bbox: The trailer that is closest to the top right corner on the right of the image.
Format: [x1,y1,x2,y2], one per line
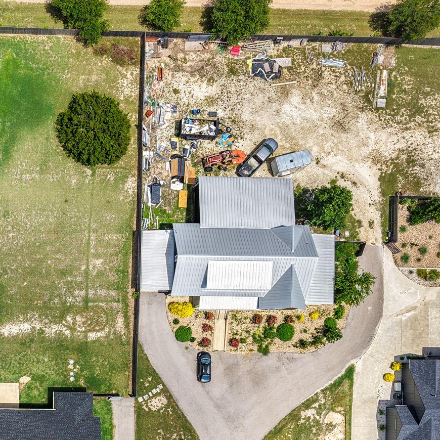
[271,150,314,176]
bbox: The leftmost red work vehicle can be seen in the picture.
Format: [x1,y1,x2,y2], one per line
[197,152,226,169]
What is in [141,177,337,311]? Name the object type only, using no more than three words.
house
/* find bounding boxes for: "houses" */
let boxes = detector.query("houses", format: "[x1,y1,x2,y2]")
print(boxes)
[141,177,337,311]
[0,391,102,440]
[382,355,440,440]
